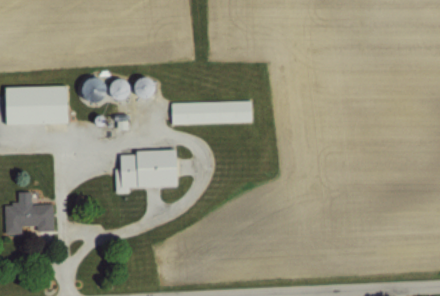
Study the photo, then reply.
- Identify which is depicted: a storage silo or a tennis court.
storage silo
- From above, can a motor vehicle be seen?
No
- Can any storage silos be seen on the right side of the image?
No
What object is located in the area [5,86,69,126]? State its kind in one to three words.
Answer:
building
